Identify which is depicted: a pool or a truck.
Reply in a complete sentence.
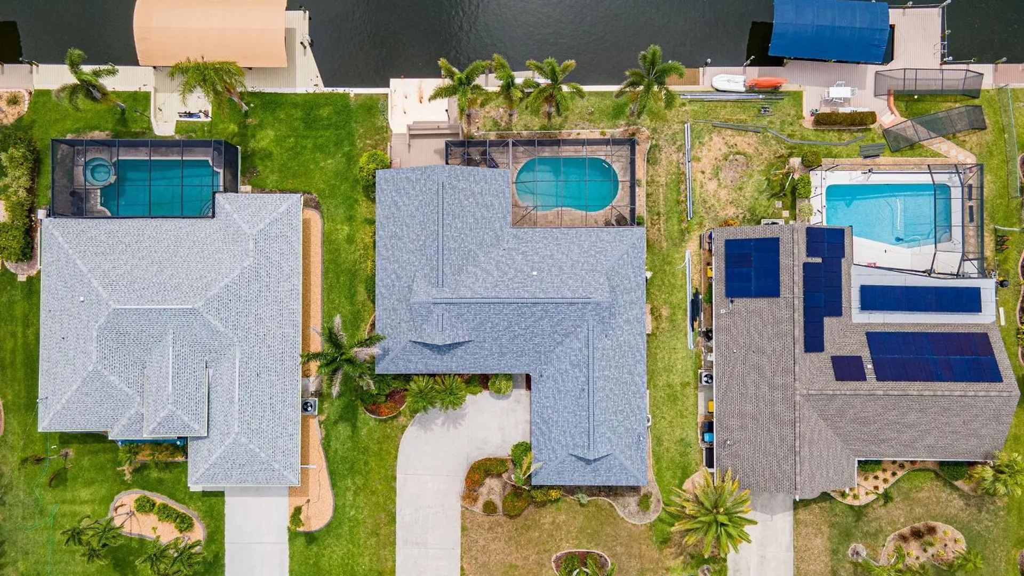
The one in the frame is a pool.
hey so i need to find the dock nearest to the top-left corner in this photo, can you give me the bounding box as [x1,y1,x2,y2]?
[0,62,34,84]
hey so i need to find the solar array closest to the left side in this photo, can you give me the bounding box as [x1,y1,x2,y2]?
[725,238,781,297]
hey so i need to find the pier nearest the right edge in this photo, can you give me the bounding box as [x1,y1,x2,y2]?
[993,64,1024,84]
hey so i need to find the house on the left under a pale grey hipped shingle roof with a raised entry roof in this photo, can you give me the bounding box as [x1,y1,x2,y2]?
[38,191,316,488]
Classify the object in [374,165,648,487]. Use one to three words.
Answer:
house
